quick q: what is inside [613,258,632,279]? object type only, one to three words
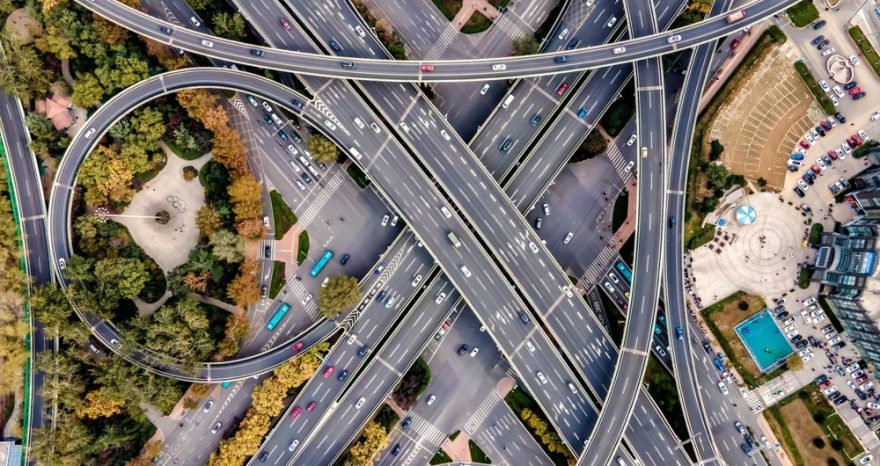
vehicle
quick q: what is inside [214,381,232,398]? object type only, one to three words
vehicle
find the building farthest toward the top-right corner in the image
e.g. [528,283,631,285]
[838,161,880,214]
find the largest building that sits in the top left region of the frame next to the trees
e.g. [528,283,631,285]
[39,91,81,132]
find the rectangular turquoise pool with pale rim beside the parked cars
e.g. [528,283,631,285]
[735,310,797,374]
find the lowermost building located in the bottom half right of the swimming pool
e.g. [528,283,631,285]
[832,288,880,391]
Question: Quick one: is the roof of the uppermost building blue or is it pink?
pink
